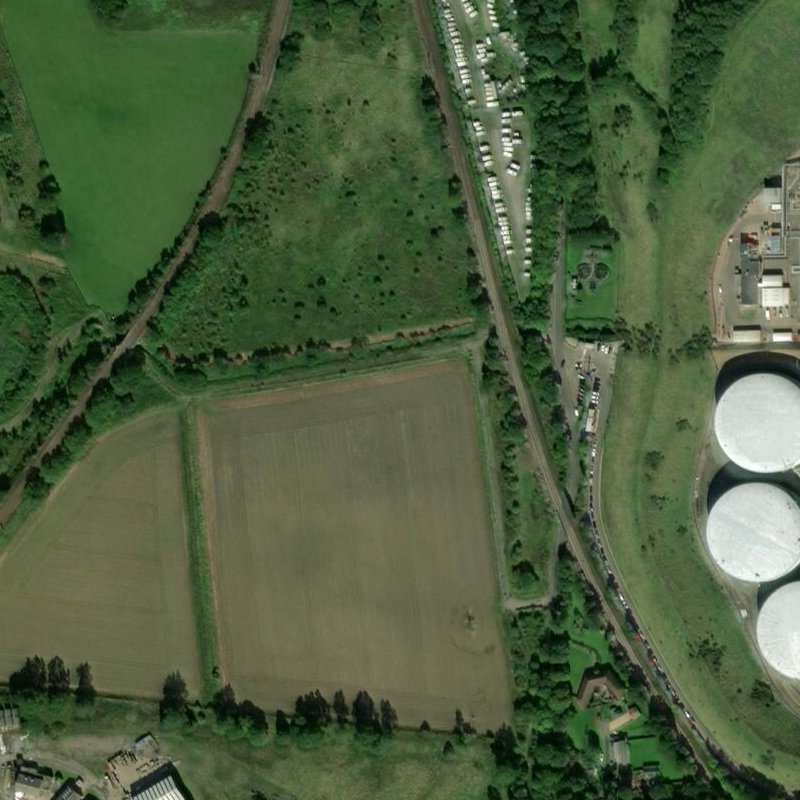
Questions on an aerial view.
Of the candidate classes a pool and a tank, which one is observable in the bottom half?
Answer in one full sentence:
You can see a tank in the bottom half.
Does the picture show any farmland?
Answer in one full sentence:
Yes, some farmland is visible.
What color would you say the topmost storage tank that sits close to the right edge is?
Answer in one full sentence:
The topmost storage tank that sits close to the right edge looks white in the image.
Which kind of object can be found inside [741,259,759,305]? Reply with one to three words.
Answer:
shed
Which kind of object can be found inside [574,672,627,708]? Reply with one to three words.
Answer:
house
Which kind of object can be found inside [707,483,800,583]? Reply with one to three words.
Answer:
storage tank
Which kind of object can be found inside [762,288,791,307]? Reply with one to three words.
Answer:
building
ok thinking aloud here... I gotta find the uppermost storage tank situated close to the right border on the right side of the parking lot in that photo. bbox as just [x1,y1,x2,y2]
[715,372,800,473]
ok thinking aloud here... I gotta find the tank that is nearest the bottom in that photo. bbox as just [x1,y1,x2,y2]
[755,581,800,681]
